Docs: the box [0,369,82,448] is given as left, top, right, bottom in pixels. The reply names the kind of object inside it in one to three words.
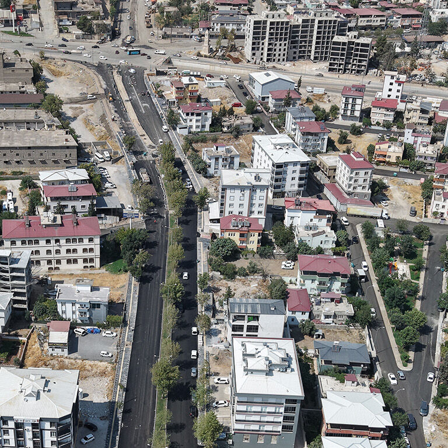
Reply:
building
